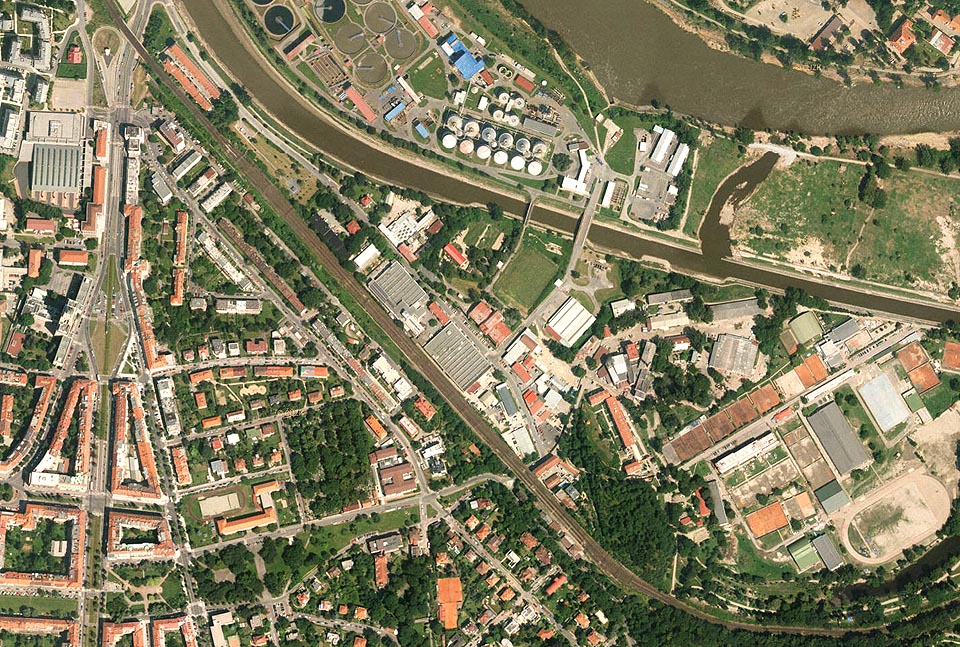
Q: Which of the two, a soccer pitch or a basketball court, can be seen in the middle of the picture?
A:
soccer pitch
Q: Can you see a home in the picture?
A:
Yes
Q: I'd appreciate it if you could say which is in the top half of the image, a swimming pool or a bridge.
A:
bridge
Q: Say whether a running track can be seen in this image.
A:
Yes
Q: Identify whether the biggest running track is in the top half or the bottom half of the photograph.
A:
bottom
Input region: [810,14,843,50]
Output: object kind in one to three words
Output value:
house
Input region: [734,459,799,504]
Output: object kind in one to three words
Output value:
tennis court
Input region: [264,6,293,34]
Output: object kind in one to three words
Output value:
water tank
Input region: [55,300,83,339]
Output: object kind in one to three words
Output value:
building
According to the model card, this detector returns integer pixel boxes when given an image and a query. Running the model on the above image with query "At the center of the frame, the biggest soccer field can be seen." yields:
[494,249,557,313]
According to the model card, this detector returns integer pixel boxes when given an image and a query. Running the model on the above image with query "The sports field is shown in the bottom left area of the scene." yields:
[199,492,241,516]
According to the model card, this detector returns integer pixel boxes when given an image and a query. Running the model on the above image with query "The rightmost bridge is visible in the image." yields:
[573,174,608,252]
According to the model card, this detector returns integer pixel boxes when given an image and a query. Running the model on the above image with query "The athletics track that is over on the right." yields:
[842,473,950,564]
